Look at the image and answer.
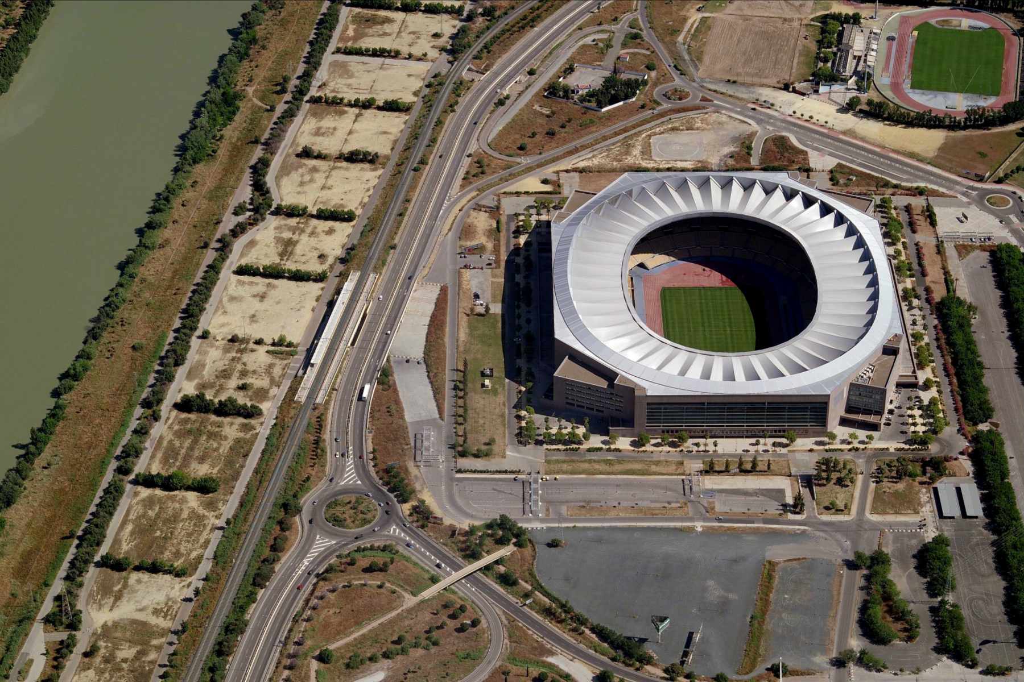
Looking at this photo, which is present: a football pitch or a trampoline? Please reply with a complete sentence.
The image shows a football pitch.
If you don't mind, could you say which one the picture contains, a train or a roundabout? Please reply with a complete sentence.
Looking from above, you can make out a roundabout.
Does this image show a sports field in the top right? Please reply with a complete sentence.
Yes, a sports field is visible in the top right.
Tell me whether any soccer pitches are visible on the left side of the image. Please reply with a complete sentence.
No, there's no soccer pitch to be seen on the left side of the image.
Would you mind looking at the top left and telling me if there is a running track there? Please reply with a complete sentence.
No, the scene shows no running track at the top left.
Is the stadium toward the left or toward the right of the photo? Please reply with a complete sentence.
The stadium sits on the right side.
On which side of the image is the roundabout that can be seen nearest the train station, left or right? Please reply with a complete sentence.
The roundabout that can be seen nearest the train station sits on the left side.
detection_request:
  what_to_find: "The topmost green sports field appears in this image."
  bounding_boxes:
[910,22,1005,96]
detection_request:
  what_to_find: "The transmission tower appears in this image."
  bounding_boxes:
[56,580,73,627]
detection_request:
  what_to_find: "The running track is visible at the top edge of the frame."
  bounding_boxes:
[891,8,1017,117]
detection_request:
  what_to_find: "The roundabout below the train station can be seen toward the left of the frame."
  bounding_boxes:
[301,482,402,544]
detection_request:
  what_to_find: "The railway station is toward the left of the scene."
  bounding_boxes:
[295,272,379,404]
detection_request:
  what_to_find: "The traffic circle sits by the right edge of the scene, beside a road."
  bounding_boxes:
[967,184,1024,218]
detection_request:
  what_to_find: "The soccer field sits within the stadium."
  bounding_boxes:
[659,286,778,351]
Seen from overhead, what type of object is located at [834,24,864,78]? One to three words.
building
